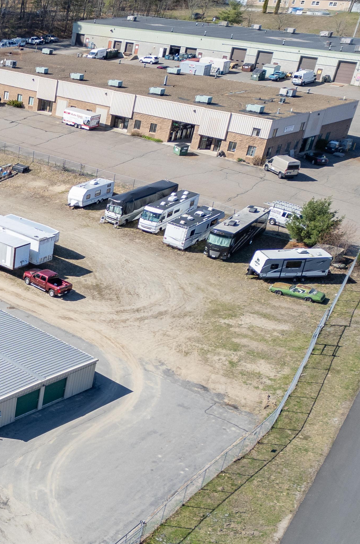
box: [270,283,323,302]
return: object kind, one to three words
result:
car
